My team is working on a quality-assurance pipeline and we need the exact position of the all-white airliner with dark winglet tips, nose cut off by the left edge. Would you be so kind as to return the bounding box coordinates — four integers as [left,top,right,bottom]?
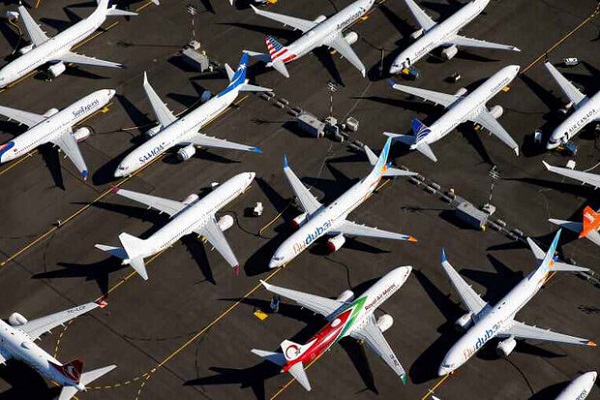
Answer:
[0,0,138,95]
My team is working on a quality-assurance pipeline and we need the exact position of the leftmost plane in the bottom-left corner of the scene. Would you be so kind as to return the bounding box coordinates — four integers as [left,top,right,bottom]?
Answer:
[0,295,117,400]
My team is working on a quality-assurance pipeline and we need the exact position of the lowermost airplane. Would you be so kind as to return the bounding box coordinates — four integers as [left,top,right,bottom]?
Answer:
[554,372,595,400]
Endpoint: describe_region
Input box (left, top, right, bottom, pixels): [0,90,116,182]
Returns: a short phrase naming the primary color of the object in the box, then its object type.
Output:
white airplane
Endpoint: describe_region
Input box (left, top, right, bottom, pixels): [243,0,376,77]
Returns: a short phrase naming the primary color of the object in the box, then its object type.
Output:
white airplane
